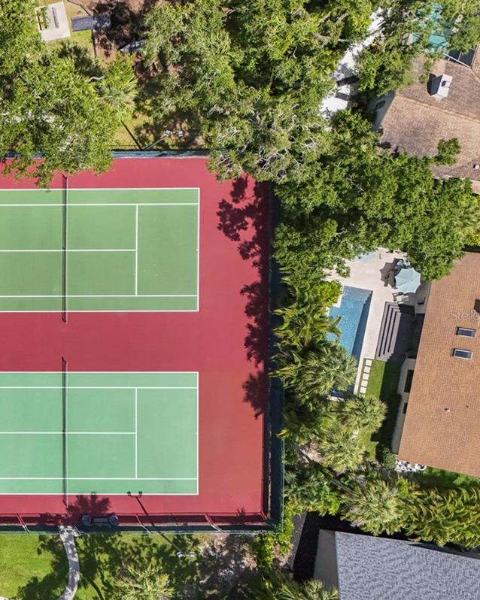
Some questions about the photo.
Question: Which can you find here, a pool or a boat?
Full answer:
The image shows a pool.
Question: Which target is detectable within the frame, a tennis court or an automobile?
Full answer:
I can see a tennis court in this picture.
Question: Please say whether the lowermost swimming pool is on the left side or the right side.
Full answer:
The lowermost swimming pool appears in the right half of the scene.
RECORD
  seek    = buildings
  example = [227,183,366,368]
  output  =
[320,526,480,600]
[388,251,480,474]
[371,36,480,196]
